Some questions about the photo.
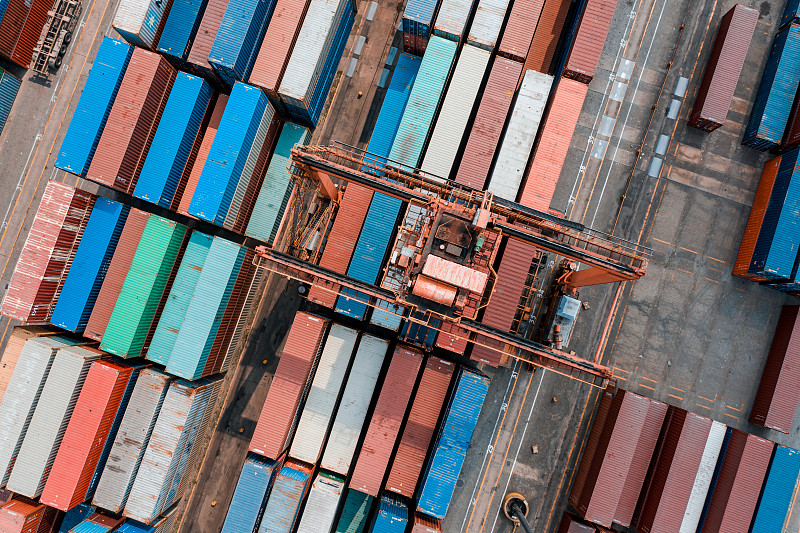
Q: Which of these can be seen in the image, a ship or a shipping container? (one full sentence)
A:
Visible in the photo is a shipping container.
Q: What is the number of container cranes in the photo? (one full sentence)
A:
I count just 1 container crane.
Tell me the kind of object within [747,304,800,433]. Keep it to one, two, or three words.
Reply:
shipping container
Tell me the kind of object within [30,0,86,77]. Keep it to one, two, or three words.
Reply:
trailer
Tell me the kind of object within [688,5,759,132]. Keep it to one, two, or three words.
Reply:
shipping container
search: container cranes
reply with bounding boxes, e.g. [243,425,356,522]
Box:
[249,139,654,389]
